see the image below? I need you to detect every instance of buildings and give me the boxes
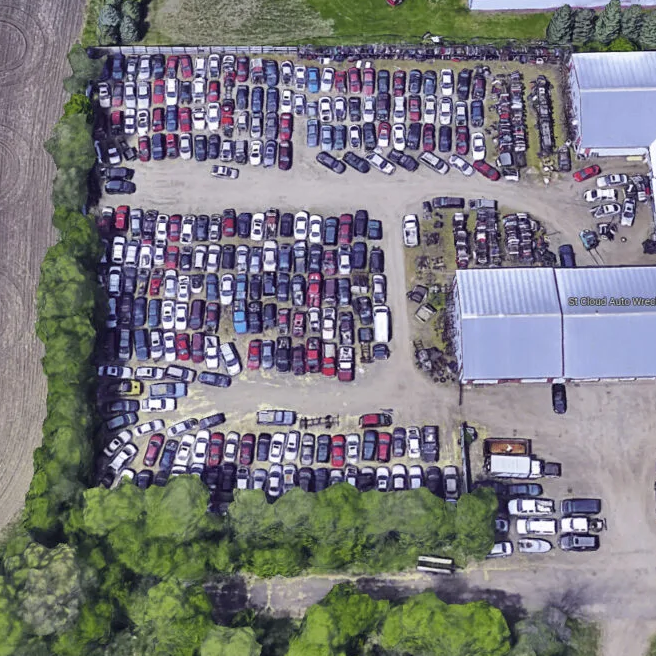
[456,264,656,383]
[468,0,642,18]
[570,50,656,158]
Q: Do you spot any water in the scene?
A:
No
